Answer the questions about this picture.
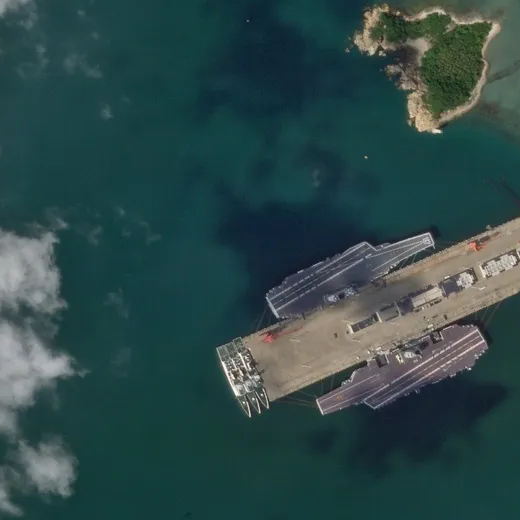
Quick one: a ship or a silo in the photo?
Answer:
ship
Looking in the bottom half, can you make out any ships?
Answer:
Yes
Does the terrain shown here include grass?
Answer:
No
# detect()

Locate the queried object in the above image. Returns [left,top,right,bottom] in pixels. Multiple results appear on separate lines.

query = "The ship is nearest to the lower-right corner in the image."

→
[317,324,488,415]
